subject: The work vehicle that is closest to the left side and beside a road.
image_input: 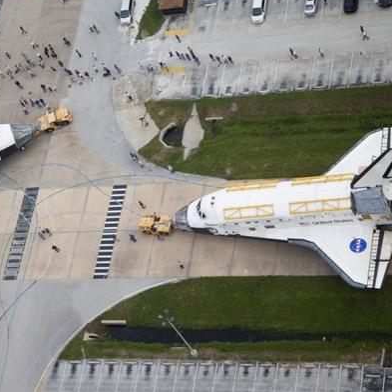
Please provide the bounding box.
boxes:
[38,106,74,137]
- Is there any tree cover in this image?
No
